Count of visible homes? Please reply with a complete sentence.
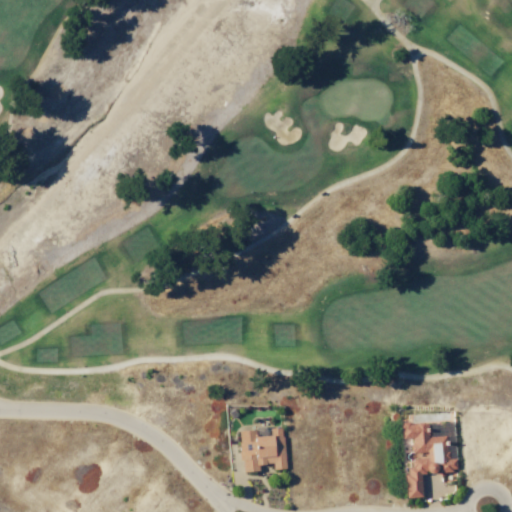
In total, there are 2 homes in the scene.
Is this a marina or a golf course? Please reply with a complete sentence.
The area seen from above is a golf course.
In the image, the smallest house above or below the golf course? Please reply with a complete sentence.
Looking at the photo, you'll find the smallest house below the golf course.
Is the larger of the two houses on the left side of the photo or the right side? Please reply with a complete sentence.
The larger of the two houses appears in the right half of the scene.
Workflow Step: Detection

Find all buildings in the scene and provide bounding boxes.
[242,427,287,474]
[404,414,460,499]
